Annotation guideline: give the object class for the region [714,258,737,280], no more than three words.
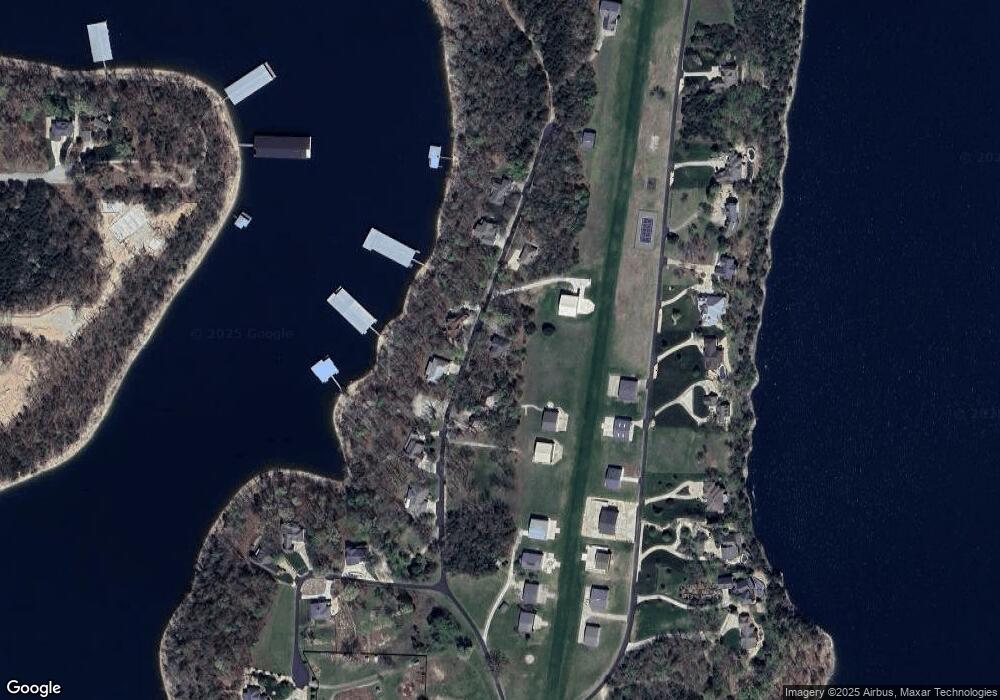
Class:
house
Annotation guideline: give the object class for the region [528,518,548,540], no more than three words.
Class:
hangar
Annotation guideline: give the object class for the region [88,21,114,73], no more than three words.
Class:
pier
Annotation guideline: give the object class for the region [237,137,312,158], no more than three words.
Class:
pier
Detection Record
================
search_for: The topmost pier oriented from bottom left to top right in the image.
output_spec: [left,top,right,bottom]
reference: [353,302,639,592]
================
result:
[221,62,277,105]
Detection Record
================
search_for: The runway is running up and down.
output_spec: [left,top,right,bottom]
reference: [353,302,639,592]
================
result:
[545,0,657,700]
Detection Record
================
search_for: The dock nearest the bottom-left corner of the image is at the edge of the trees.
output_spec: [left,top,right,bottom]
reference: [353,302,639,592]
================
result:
[312,354,344,392]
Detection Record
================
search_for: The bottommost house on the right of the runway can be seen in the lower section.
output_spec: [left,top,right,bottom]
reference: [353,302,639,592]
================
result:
[738,615,756,651]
